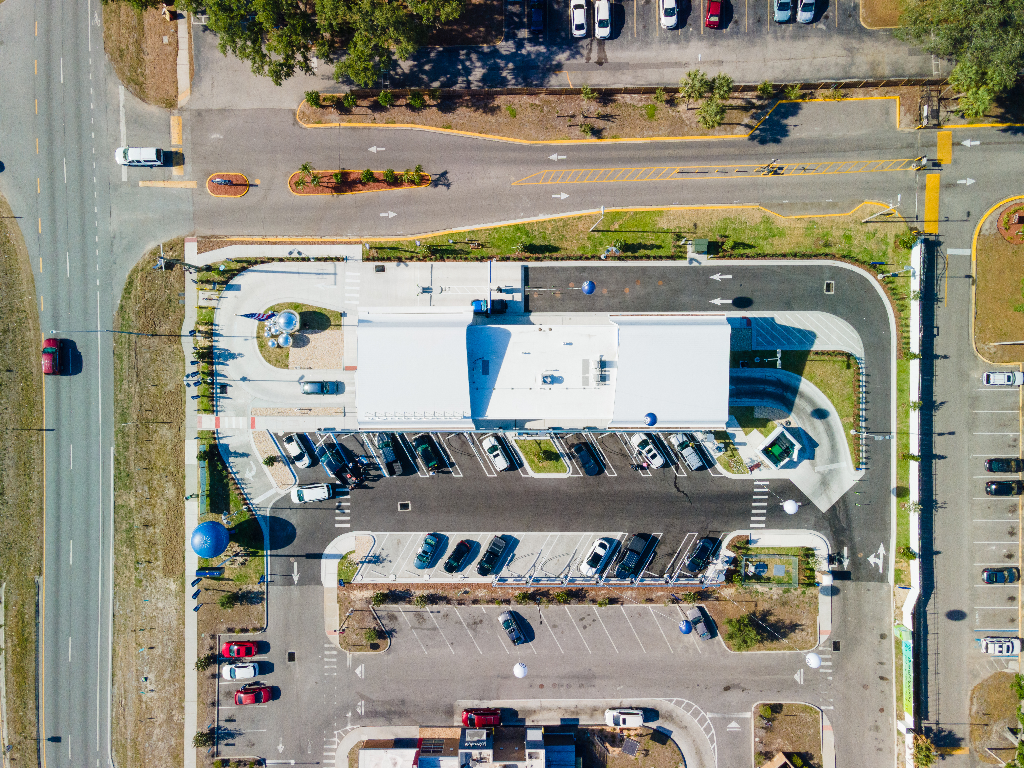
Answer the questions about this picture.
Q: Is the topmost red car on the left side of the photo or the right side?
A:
right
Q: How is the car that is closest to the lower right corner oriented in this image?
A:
from side to side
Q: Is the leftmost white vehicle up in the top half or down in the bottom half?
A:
top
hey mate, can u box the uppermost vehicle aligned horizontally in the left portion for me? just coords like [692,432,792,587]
[115,146,165,167]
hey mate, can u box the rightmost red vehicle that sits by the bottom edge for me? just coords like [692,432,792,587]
[462,708,501,730]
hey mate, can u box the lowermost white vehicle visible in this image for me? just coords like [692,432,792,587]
[604,707,644,729]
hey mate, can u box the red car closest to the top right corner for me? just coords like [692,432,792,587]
[704,0,724,29]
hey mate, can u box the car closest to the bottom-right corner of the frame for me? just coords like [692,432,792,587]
[978,636,1022,657]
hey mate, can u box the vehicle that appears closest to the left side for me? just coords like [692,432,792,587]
[39,338,63,375]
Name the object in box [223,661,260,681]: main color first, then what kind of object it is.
white car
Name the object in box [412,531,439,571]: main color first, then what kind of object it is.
blue car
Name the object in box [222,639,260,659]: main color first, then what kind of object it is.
red car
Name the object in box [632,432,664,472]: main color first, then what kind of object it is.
white car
